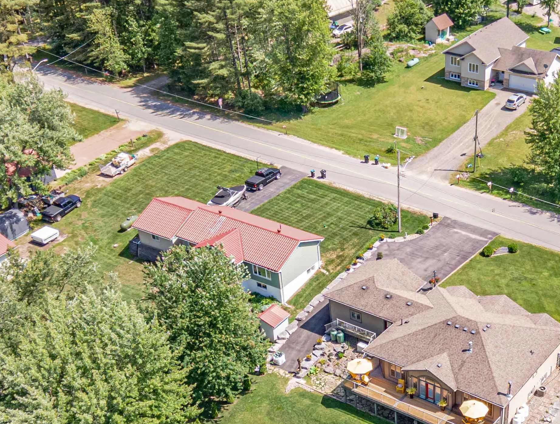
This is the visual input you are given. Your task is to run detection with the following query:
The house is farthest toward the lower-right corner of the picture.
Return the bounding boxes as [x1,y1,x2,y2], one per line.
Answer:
[320,263,560,424]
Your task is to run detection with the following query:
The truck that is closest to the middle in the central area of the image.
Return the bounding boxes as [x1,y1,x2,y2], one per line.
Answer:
[244,166,284,193]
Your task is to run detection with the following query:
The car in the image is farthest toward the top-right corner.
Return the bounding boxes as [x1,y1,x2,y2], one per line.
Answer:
[505,91,529,109]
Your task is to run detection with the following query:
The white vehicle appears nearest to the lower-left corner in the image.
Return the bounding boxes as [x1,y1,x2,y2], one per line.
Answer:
[24,223,66,246]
